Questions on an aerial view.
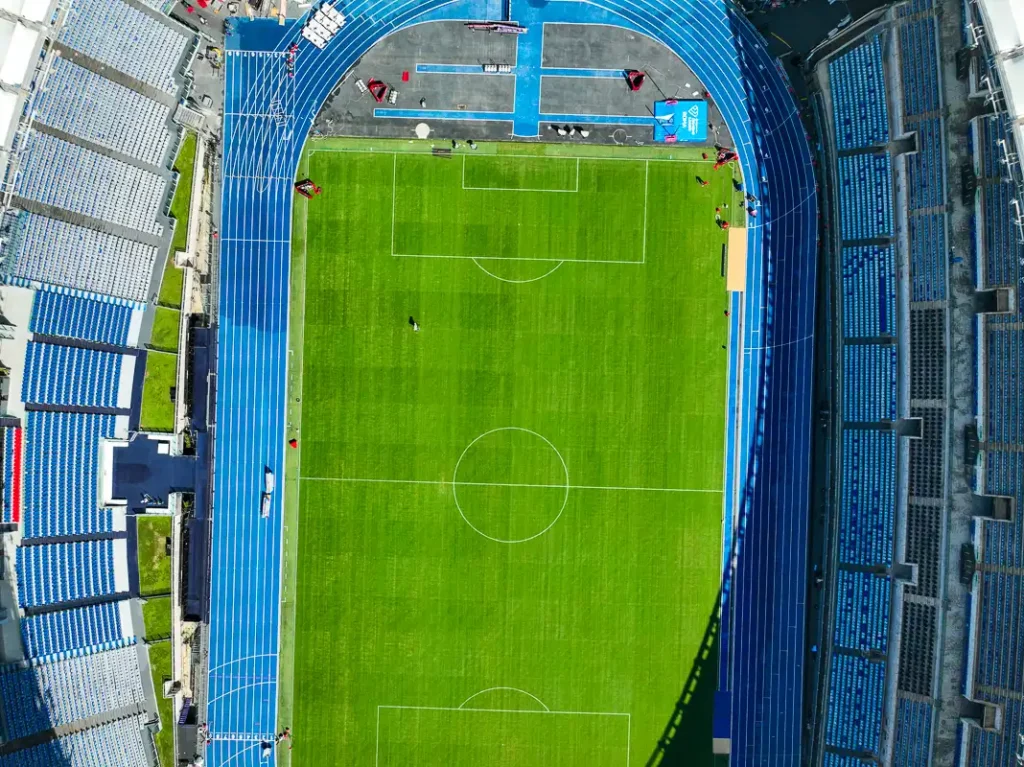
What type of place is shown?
sports ground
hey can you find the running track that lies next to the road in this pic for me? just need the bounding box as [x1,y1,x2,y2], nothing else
[204,0,817,767]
